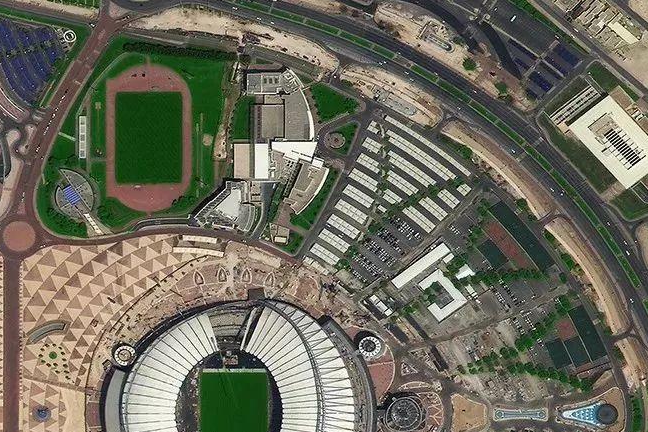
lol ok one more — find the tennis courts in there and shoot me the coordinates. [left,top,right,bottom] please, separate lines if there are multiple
[568,305,607,362]
[488,201,554,272]
[557,317,578,341]
[546,338,573,369]
[478,240,508,270]
[483,220,538,270]
[564,337,591,368]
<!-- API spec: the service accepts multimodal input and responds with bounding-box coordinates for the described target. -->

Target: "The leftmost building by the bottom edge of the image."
[386,396,424,432]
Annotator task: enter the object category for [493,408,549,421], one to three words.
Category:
fountain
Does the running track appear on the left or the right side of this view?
left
